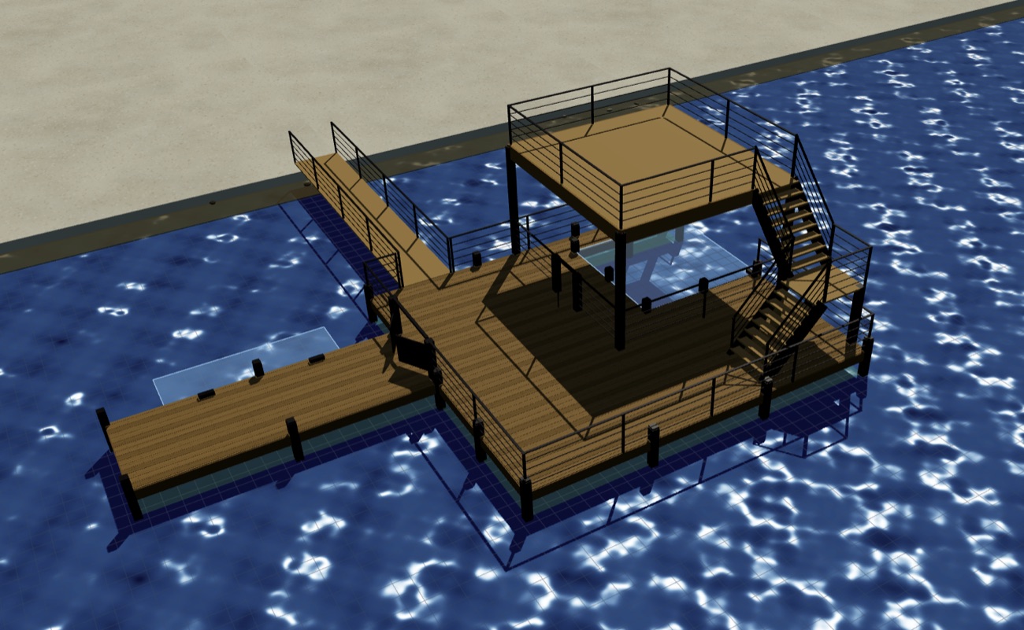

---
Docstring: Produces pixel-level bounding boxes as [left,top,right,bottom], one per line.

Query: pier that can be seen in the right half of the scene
[370,225,864,516]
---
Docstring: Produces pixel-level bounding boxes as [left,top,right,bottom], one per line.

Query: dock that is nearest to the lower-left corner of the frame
[110,333,438,518]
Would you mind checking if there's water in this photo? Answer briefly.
Yes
